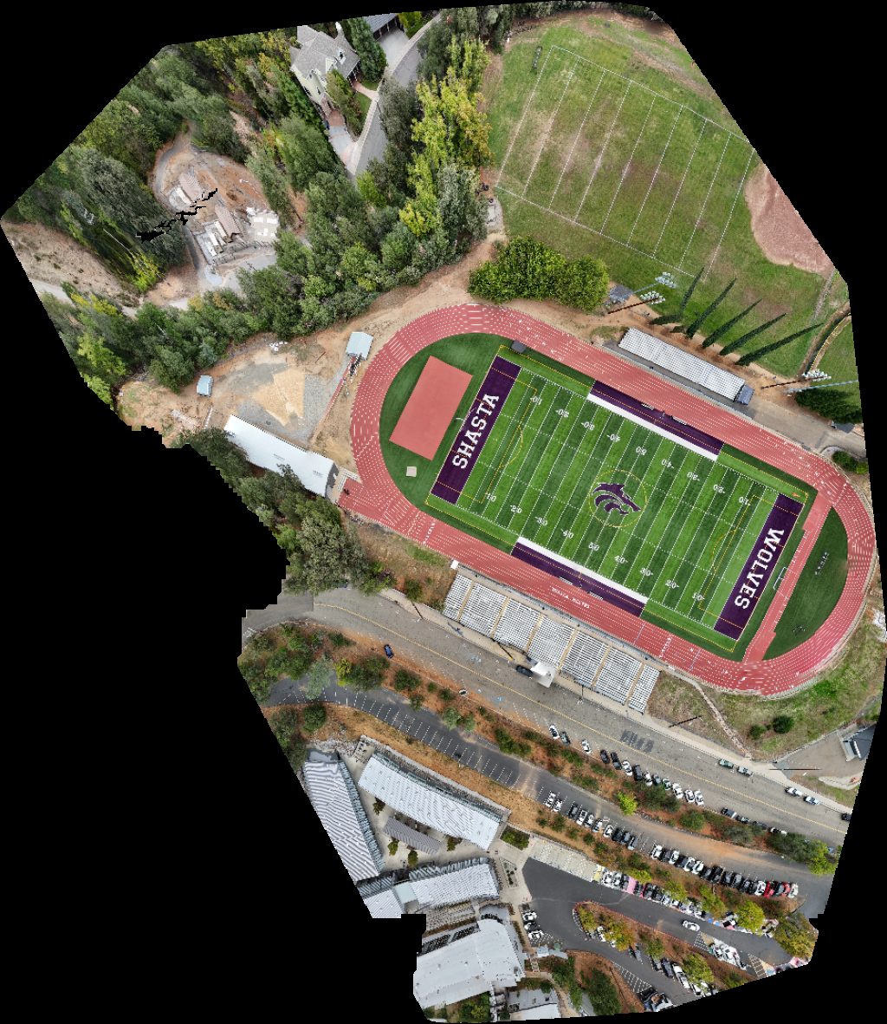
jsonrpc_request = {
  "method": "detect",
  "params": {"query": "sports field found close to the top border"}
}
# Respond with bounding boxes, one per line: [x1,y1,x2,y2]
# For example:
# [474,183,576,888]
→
[488,15,828,381]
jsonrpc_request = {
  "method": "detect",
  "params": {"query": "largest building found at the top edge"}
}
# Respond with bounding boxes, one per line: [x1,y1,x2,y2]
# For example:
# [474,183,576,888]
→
[292,21,361,103]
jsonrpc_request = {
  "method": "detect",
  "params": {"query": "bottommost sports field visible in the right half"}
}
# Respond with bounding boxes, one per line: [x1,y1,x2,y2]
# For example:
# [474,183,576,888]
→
[379,333,850,661]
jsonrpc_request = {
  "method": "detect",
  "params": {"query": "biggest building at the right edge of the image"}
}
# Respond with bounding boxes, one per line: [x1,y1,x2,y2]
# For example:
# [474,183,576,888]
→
[839,723,874,762]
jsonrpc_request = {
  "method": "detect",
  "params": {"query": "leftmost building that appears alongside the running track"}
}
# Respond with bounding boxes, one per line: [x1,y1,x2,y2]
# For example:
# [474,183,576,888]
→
[220,414,335,496]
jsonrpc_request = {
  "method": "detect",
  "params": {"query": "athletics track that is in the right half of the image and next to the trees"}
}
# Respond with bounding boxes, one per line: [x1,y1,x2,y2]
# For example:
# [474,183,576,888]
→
[339,304,876,695]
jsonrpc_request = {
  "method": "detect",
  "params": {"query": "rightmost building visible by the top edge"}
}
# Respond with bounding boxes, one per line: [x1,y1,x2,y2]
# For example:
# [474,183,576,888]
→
[365,6,396,41]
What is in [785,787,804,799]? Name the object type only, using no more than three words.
vehicle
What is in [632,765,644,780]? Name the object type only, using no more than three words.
vehicle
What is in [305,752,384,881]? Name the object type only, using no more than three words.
building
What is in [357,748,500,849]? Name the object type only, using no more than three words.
building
